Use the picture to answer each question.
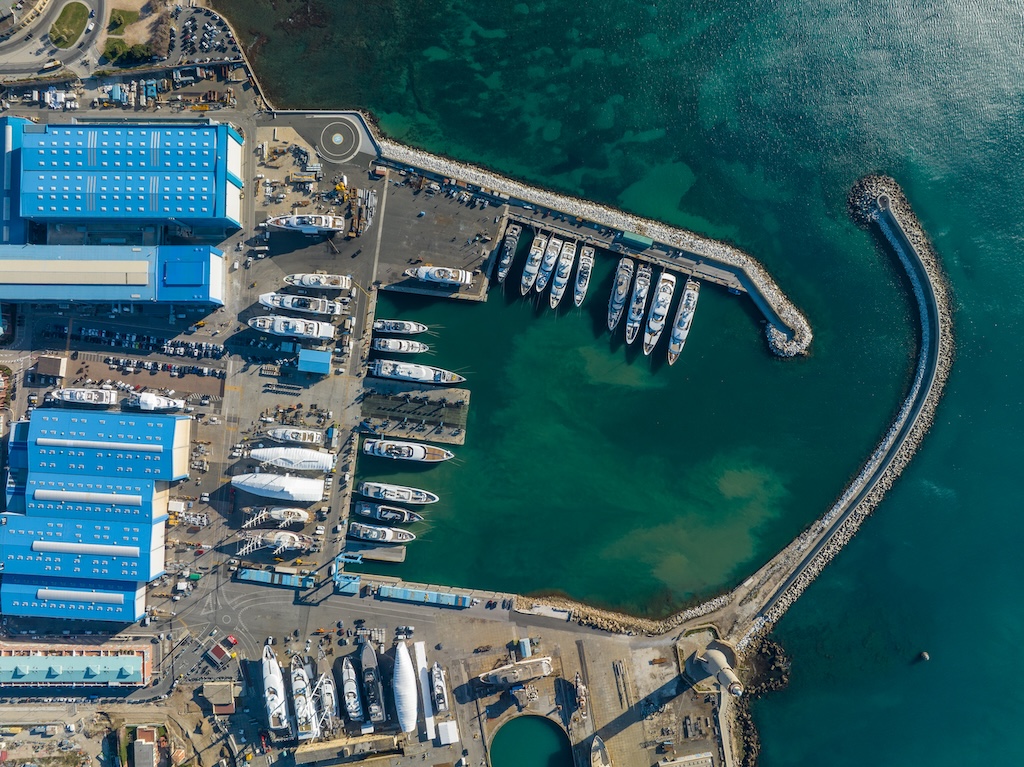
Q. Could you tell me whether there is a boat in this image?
Yes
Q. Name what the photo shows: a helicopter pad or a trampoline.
helicopter pad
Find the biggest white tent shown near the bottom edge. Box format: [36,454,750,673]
[438,718,459,745]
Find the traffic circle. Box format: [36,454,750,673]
[47,0,91,50]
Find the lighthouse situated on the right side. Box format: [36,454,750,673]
[697,641,742,696]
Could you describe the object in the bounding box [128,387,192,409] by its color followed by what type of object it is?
white boat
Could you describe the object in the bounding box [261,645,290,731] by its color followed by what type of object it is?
white boat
